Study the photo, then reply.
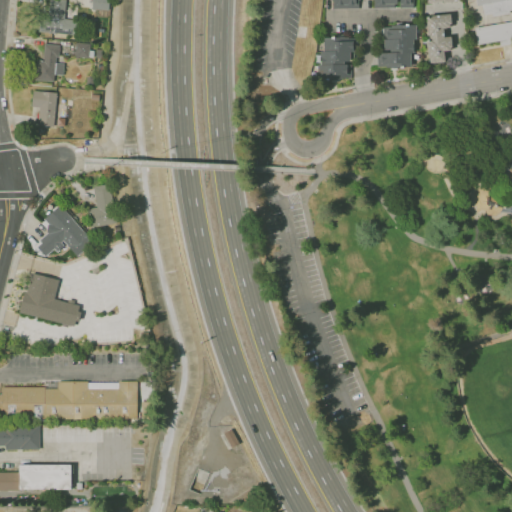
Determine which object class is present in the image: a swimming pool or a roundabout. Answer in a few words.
roundabout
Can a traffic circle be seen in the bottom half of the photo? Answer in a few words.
No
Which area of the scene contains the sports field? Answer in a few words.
bottom right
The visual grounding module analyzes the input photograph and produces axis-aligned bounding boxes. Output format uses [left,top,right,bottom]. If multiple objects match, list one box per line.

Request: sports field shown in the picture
[460,332,512,479]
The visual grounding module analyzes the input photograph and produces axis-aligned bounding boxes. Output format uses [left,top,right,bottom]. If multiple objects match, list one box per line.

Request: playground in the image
[473,181,504,219]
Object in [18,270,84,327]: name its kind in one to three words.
building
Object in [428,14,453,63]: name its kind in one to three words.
house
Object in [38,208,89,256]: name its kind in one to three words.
house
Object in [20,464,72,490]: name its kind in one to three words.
building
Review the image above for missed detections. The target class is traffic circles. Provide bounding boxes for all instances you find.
[284,104,342,158]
